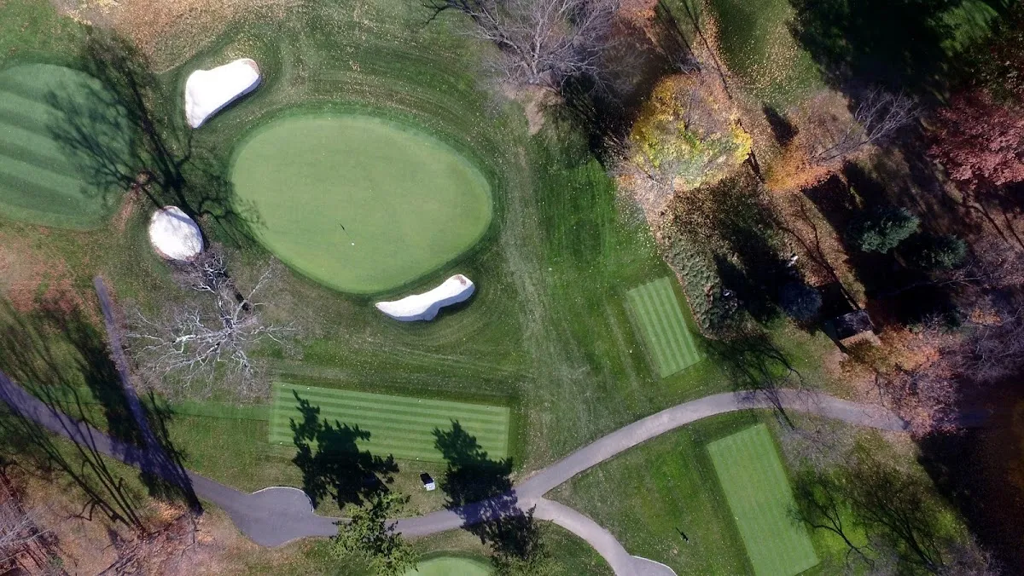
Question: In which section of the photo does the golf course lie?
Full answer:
The golf course sits in the left section of the image.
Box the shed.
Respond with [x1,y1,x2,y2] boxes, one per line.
[828,310,880,354]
